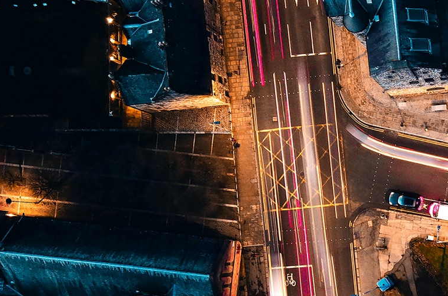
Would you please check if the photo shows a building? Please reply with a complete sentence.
Yes, there's a building here.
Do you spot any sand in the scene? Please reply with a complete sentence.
No, there is no sand in the image.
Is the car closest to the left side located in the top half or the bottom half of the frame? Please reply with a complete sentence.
Seen from above, the car closest to the left side lies in the top half of the view.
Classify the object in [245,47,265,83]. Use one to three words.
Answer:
car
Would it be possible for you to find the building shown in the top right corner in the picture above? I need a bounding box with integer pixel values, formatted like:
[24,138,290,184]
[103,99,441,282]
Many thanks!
[323,0,448,95]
